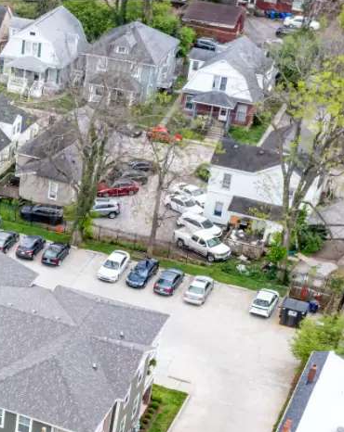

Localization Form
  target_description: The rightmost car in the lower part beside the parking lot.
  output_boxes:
[249,286,278,313]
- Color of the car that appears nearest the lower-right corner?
white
